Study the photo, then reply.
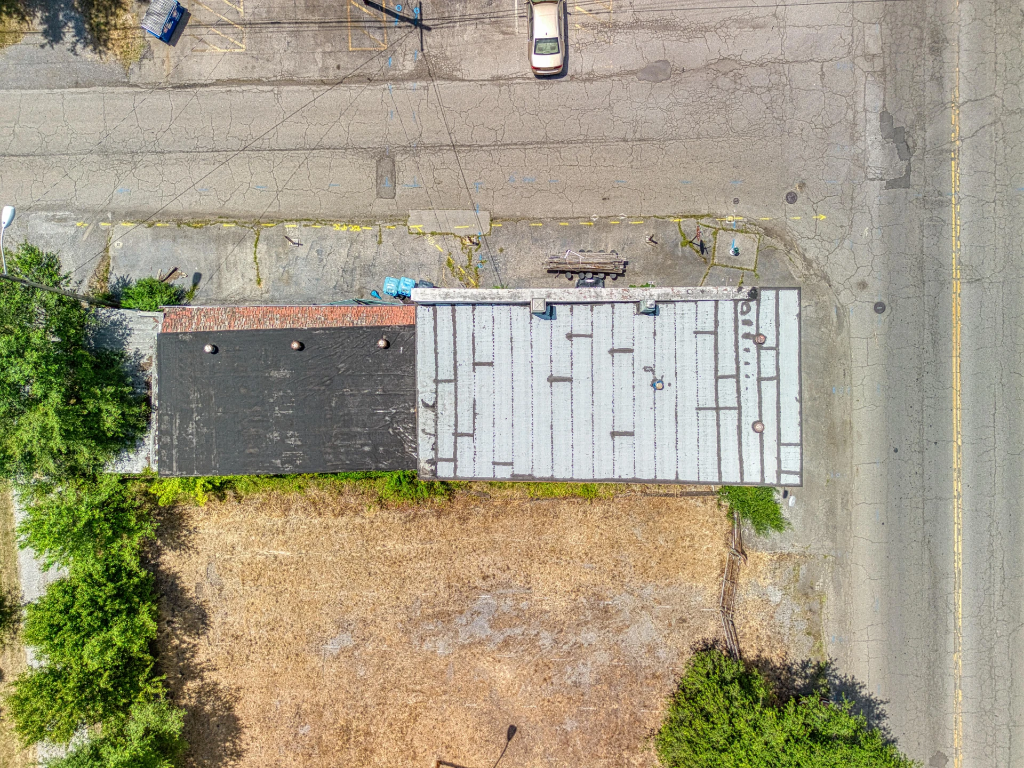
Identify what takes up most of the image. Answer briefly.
paved ground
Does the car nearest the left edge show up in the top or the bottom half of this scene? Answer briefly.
top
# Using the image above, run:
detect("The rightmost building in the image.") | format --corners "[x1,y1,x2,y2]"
[412,278,803,506]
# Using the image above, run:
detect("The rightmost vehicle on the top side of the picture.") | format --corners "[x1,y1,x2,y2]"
[526,0,569,71]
